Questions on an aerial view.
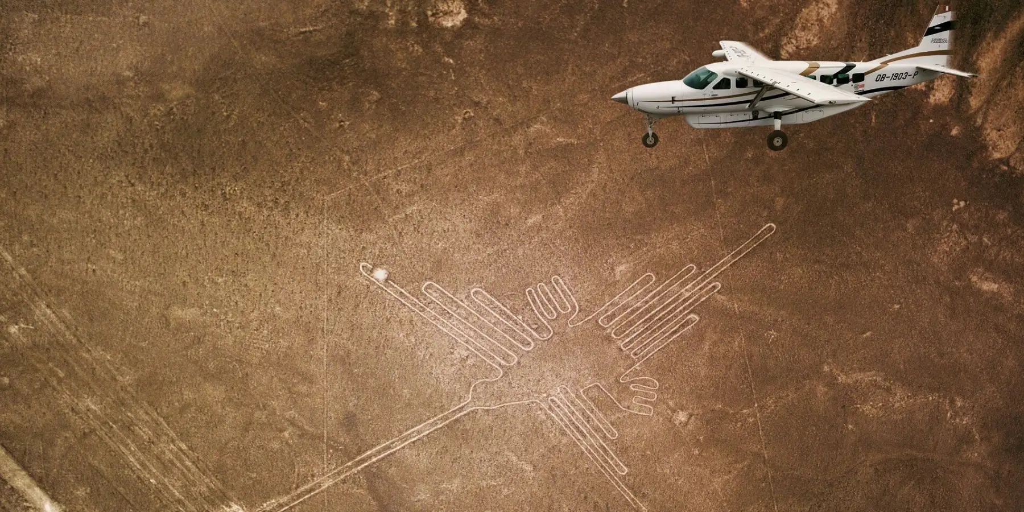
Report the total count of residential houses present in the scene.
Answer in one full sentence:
The picture shows no residential houses.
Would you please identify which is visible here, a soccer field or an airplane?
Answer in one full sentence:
Of the two, only an airplane appears.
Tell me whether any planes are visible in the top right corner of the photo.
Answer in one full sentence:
Yes, there is a plane in the top right corner of the photo.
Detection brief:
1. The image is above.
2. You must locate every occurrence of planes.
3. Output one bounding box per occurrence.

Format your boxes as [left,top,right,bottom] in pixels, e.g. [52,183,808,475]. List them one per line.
[611,5,982,151]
